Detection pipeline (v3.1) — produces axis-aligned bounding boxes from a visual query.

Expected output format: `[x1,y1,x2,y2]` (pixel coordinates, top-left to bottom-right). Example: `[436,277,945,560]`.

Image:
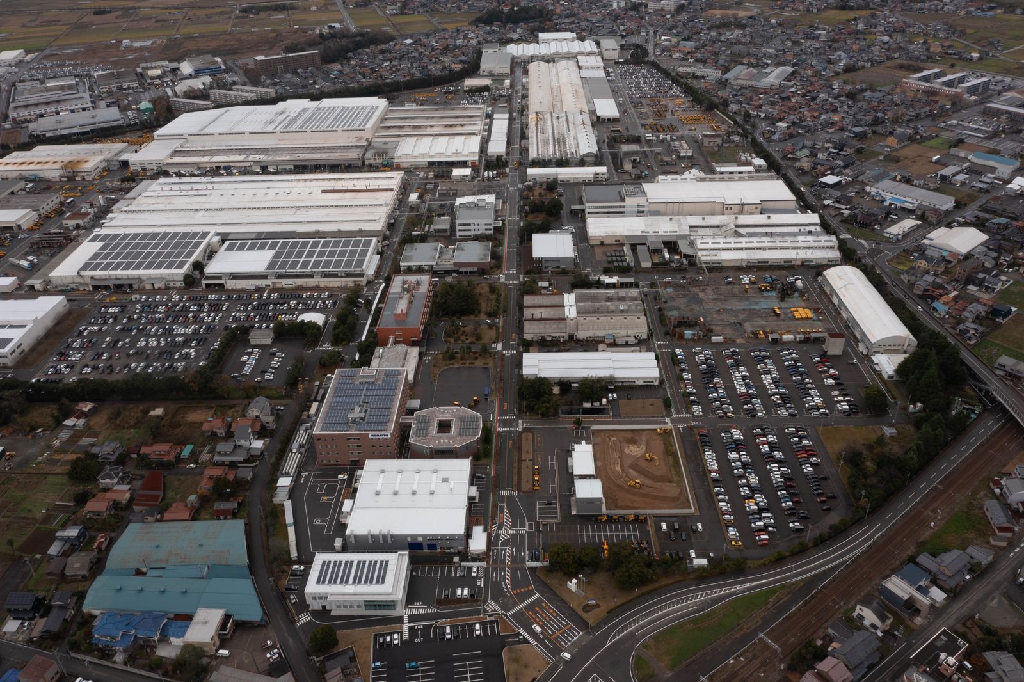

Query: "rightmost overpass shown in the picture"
[921,316,1024,424]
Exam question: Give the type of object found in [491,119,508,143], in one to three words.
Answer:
shed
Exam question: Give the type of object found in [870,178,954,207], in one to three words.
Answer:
building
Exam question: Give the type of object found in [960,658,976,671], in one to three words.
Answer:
vehicle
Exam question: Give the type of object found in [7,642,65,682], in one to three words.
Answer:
house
